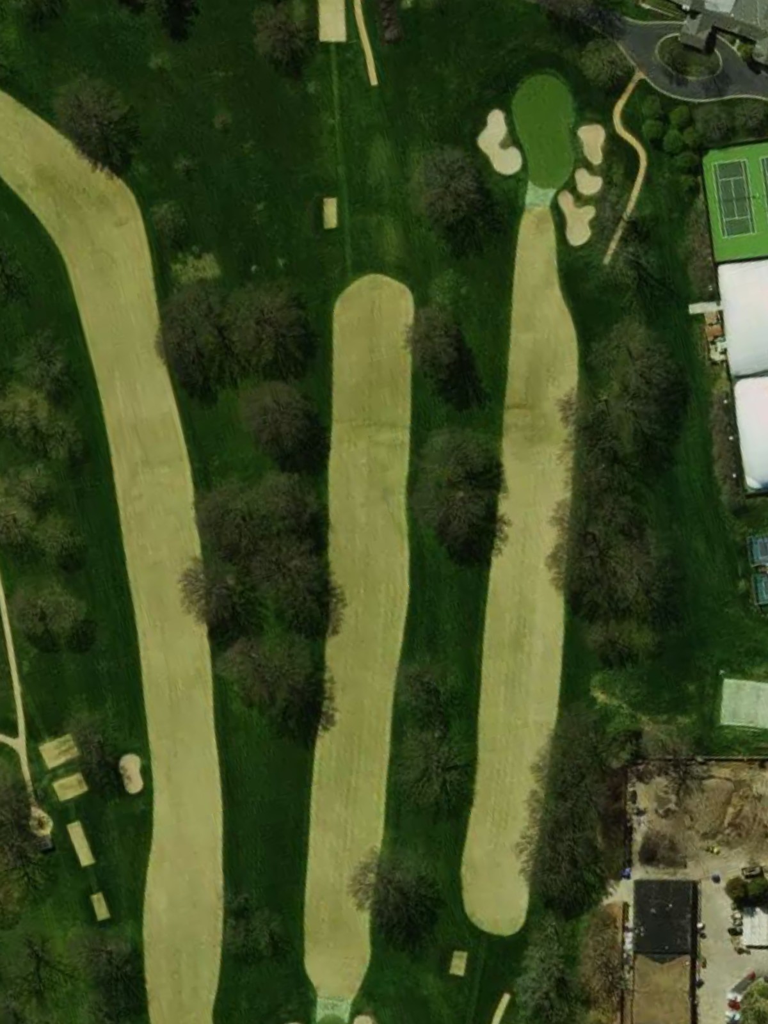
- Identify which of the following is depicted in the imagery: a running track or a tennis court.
tennis court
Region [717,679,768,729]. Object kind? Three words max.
sports court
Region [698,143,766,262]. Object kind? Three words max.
tennis court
